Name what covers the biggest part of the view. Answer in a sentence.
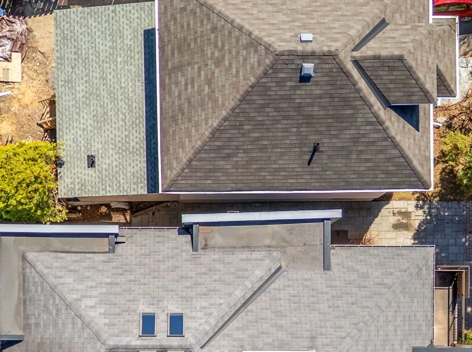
The largest share of the image is taken up by buildings.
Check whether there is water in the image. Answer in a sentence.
No, the picture contains no water.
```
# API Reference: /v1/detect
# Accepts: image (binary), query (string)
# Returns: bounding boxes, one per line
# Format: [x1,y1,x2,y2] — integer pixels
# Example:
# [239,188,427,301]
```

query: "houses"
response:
[0,209,472,352]
[153,0,460,200]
